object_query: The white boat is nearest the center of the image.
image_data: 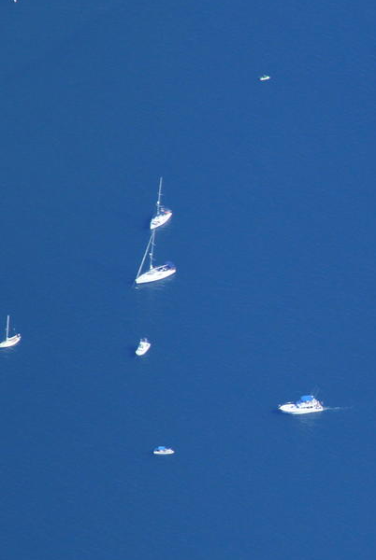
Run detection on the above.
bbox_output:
[136,230,176,283]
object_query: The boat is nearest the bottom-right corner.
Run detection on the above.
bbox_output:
[278,391,326,414]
